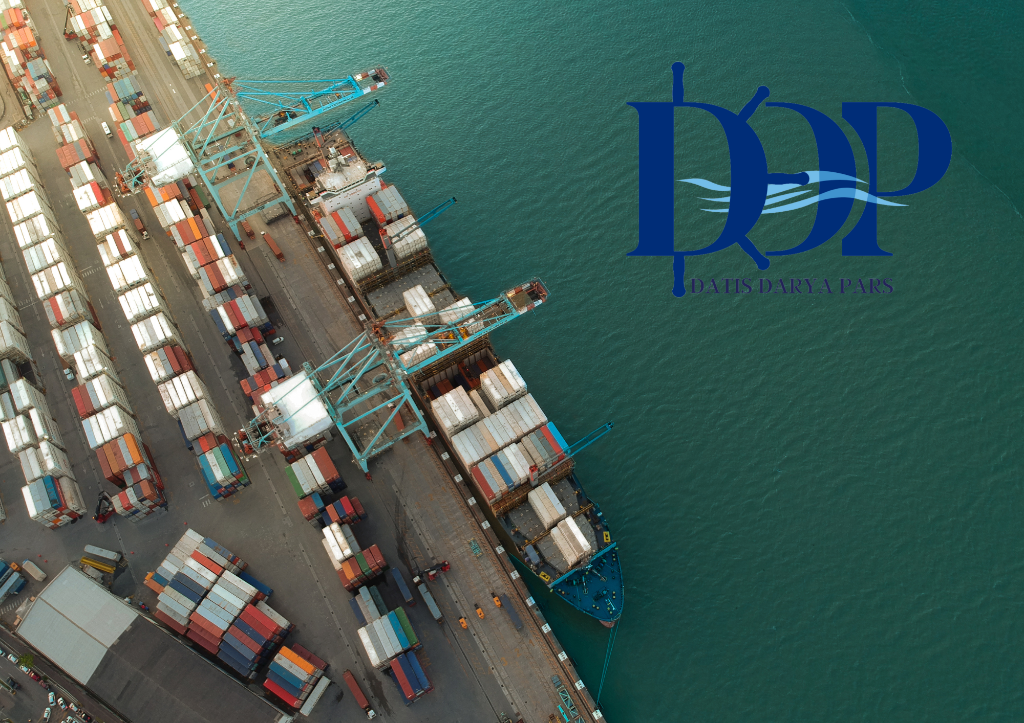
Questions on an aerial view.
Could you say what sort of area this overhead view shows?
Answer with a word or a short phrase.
port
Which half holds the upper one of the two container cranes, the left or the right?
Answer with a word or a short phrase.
left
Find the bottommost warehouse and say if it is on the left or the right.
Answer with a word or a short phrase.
left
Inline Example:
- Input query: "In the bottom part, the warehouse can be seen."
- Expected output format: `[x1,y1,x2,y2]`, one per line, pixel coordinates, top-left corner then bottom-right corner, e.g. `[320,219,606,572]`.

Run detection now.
[9,562,291,723]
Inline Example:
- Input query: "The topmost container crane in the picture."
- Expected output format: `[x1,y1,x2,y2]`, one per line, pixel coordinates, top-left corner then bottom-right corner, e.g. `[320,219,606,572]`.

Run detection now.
[119,63,394,249]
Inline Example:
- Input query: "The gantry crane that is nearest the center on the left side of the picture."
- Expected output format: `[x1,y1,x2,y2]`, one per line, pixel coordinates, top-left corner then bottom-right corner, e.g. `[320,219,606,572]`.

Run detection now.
[234,272,552,481]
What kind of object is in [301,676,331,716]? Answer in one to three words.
shipping container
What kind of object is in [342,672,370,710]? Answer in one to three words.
shipping container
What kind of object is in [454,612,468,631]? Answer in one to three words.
work vehicle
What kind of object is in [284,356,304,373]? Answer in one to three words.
vehicle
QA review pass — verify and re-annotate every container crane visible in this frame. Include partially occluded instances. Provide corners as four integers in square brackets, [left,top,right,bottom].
[119,63,394,249]
[234,272,552,481]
